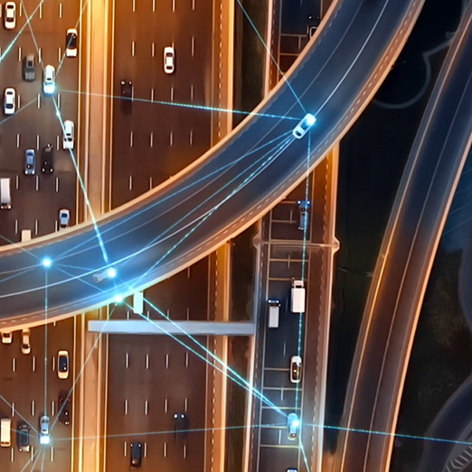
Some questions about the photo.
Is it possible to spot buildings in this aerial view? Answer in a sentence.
No, no building is visible in the view.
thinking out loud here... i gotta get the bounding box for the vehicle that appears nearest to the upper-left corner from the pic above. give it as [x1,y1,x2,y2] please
[3,1,17,29]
